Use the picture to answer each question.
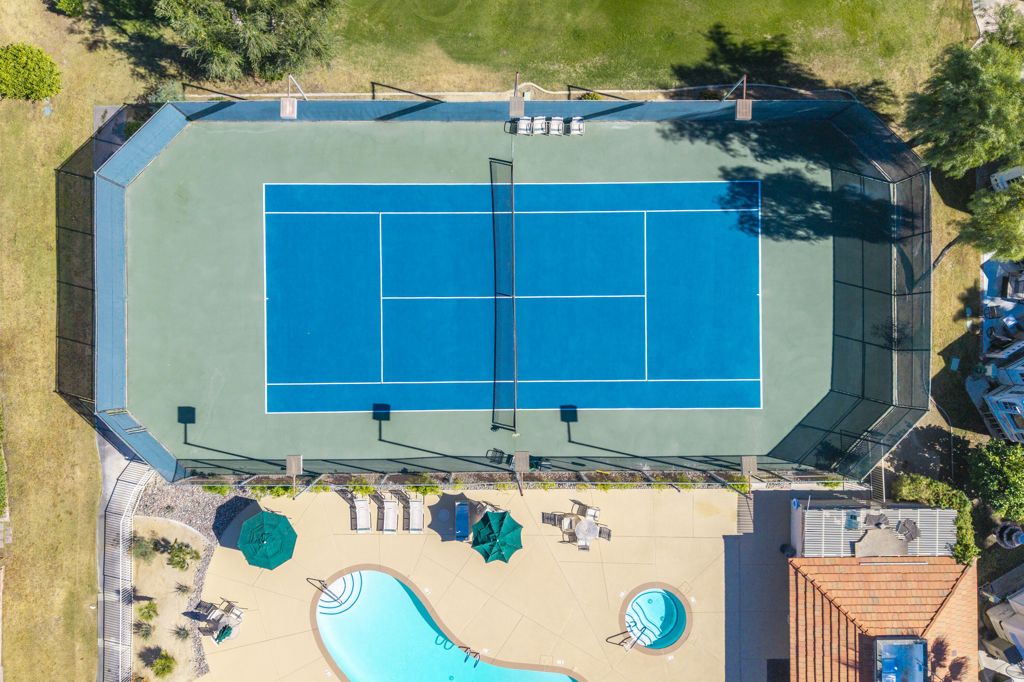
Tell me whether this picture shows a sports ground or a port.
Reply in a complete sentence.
It's a sports ground.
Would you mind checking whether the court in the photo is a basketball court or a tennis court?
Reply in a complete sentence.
The court can be classified as a tennis court.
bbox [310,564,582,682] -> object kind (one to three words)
swimming pool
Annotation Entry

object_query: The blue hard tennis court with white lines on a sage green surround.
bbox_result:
[123,119,900,488]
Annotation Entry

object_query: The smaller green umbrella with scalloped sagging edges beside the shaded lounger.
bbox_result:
[472,511,523,563]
